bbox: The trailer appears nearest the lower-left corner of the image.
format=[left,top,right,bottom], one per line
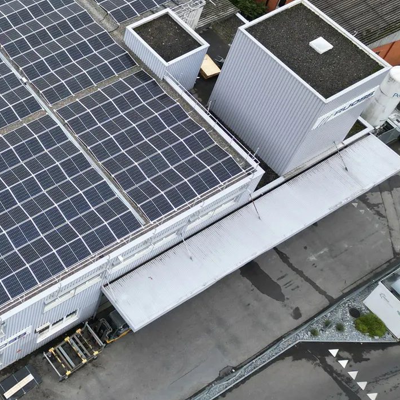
[41,323,104,382]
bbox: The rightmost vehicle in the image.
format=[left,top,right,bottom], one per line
[93,305,127,346]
